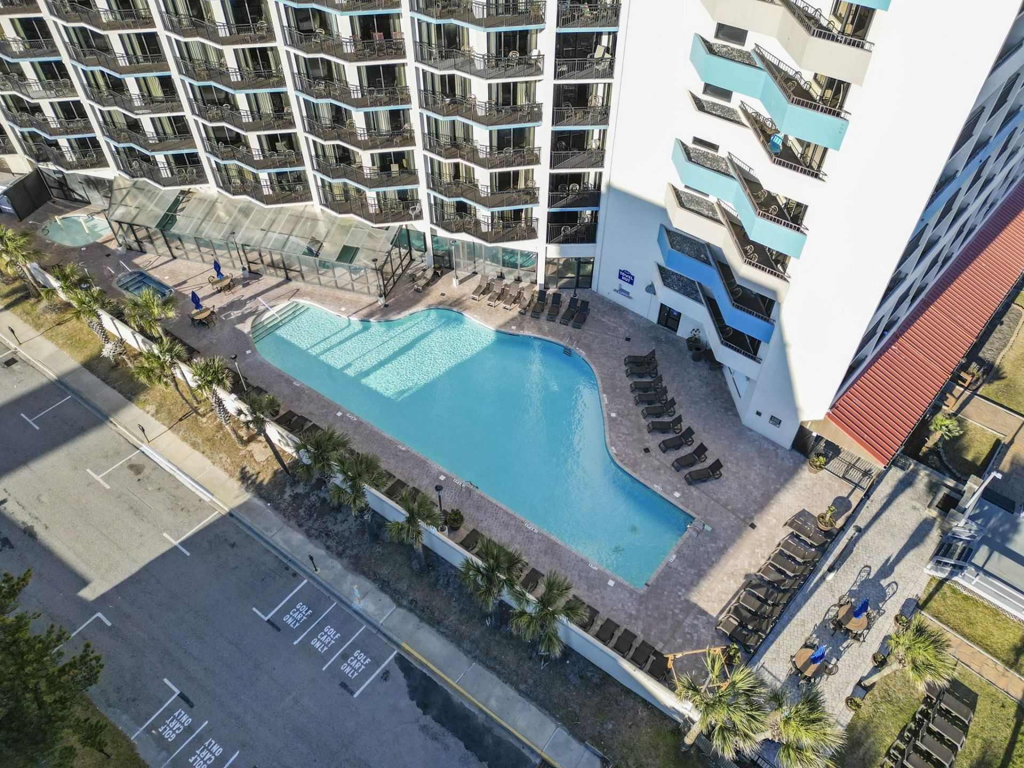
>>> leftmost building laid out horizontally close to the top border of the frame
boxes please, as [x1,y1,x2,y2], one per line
[0,0,627,291]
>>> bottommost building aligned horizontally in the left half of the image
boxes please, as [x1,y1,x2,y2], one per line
[111,181,414,299]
